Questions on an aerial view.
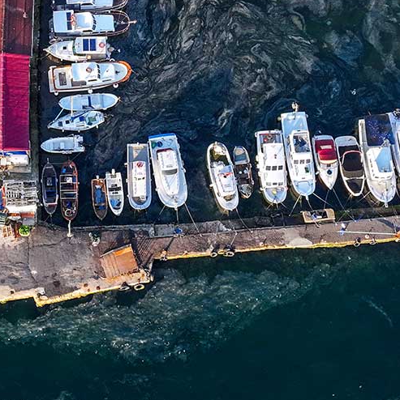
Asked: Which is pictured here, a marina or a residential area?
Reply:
marina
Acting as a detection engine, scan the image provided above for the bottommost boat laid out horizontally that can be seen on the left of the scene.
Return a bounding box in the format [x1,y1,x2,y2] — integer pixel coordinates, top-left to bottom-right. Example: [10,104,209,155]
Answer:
[42,135,87,153]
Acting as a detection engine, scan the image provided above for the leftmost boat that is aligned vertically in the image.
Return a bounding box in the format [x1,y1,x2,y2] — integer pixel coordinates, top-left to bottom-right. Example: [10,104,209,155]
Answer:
[41,162,59,214]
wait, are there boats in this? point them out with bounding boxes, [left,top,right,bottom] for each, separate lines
[207,141,238,212]
[91,176,108,221]
[43,36,119,62]
[54,0,127,10]
[49,98,109,134]
[45,60,134,94]
[354,114,397,205]
[41,162,59,214]
[106,169,125,216]
[386,107,400,183]
[50,9,138,38]
[60,161,79,221]
[333,136,363,196]
[312,133,337,190]
[42,135,87,153]
[58,92,121,109]
[149,130,188,209]
[233,146,253,198]
[252,131,288,205]
[275,105,317,196]
[124,145,153,210]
